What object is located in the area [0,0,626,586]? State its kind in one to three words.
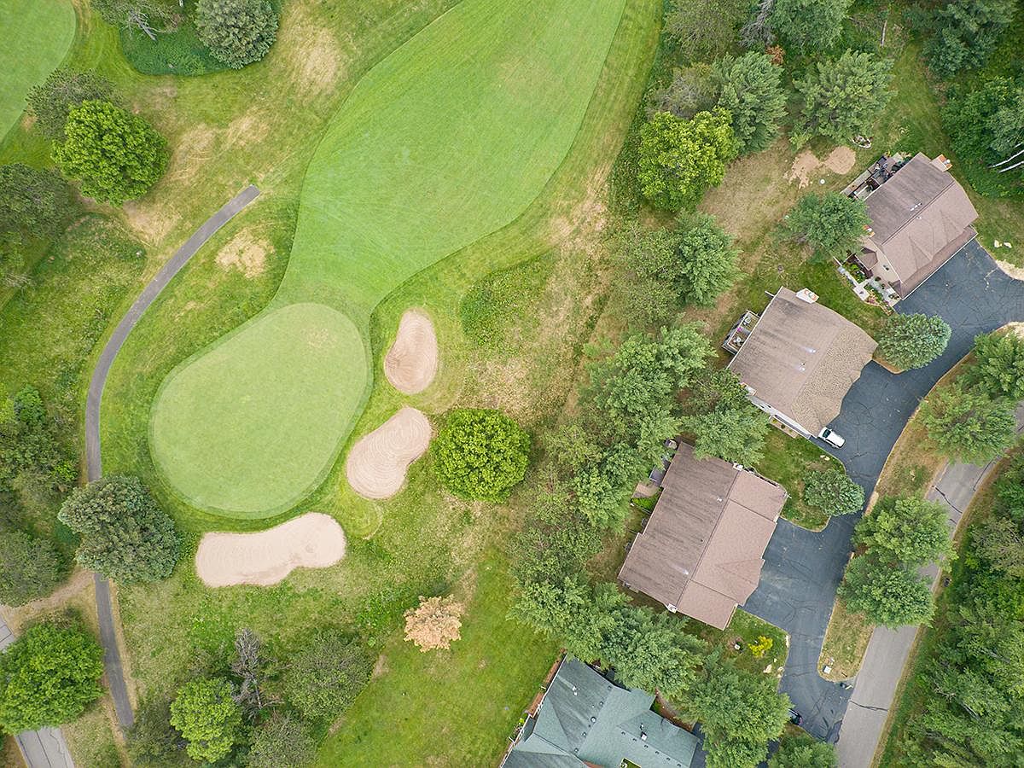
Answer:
golf course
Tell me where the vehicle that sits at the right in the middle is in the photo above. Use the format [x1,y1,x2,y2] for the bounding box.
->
[817,428,845,450]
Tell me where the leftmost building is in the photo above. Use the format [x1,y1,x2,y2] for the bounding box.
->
[502,651,699,768]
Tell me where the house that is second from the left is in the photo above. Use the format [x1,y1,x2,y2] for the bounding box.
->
[617,441,787,630]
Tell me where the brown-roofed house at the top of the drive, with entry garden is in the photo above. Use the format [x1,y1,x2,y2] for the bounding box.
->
[841,152,979,300]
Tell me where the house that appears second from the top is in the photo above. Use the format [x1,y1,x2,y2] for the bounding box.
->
[721,286,876,437]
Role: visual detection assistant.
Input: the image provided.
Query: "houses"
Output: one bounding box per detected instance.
[841,152,979,300]
[617,441,787,630]
[502,651,699,768]
[721,286,876,437]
